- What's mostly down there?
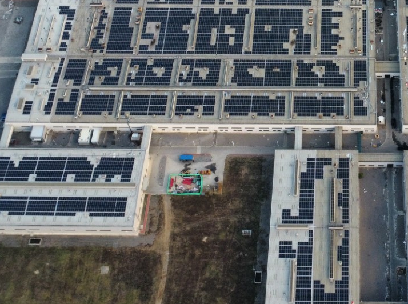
buildings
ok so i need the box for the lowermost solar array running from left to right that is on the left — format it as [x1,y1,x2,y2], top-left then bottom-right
[0,196,127,216]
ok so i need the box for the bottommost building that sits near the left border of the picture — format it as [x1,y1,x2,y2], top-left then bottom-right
[0,149,154,237]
